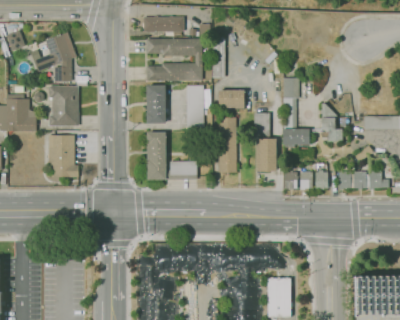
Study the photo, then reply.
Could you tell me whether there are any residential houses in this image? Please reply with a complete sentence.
Yes, there is a residential house in the image.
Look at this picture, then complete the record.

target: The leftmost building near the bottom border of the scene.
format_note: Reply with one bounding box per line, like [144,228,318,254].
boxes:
[268,277,292,318]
